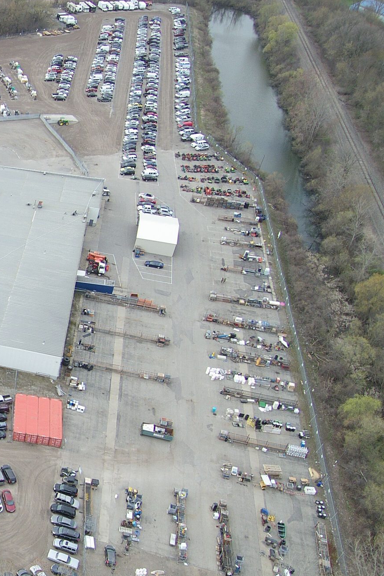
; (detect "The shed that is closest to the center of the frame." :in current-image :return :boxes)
[134,213,180,256]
